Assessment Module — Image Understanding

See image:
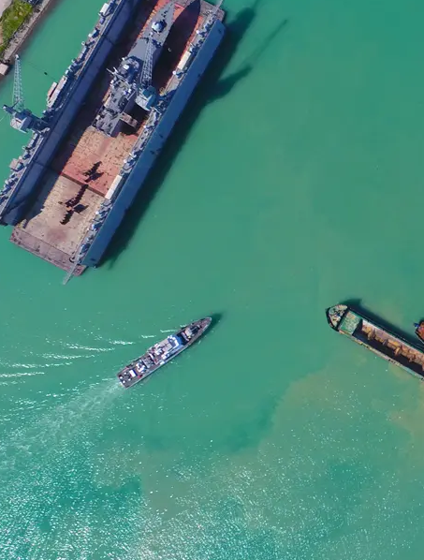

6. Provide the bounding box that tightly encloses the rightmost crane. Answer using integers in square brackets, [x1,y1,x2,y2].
[135,32,166,117]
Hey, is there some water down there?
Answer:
Yes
